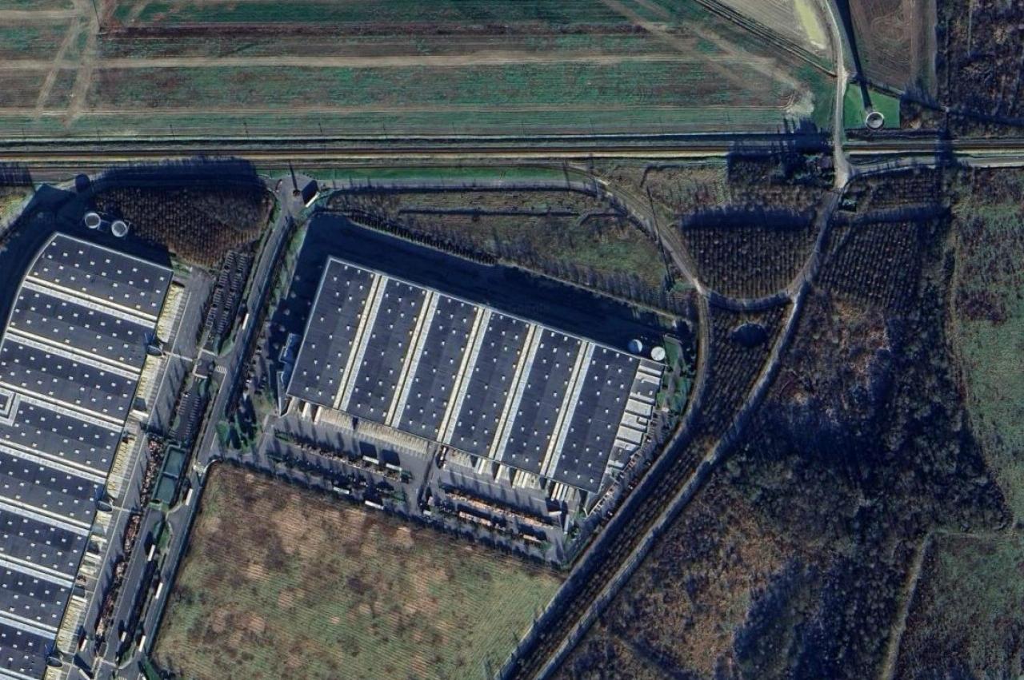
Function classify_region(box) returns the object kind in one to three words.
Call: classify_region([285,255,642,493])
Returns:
warehouse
